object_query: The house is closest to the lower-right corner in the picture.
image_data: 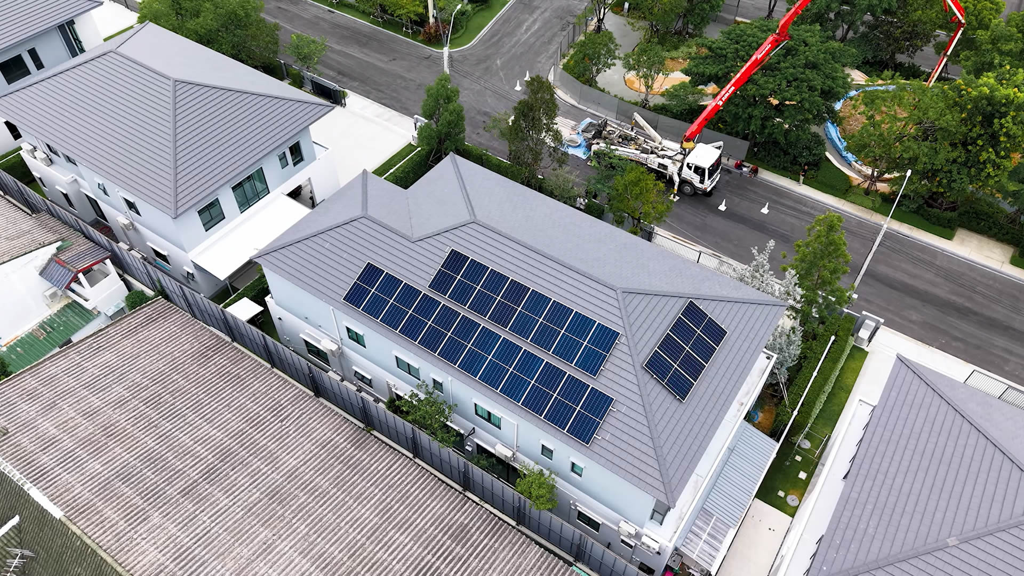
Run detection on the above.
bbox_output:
[767,352,1024,576]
